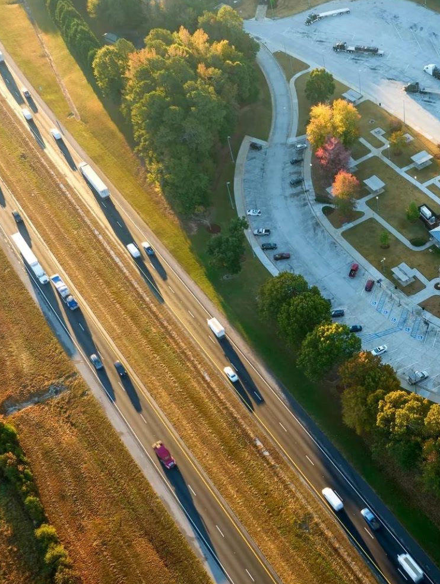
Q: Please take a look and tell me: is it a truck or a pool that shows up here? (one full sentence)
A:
It is a truck that can be seen here.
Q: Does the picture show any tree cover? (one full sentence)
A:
Yes, tree cover shows up in the scene.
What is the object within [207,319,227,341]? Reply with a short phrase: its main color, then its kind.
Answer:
white vehicle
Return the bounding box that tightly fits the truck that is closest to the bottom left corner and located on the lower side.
[150,438,177,473]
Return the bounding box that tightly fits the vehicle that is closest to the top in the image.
[305,8,352,27]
